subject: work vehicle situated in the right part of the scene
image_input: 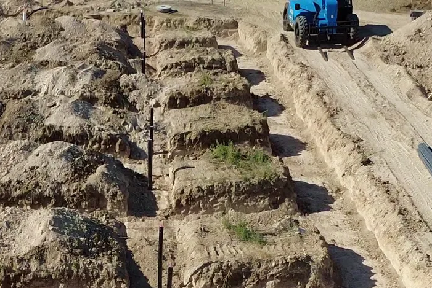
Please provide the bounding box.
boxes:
[286,0,362,56]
